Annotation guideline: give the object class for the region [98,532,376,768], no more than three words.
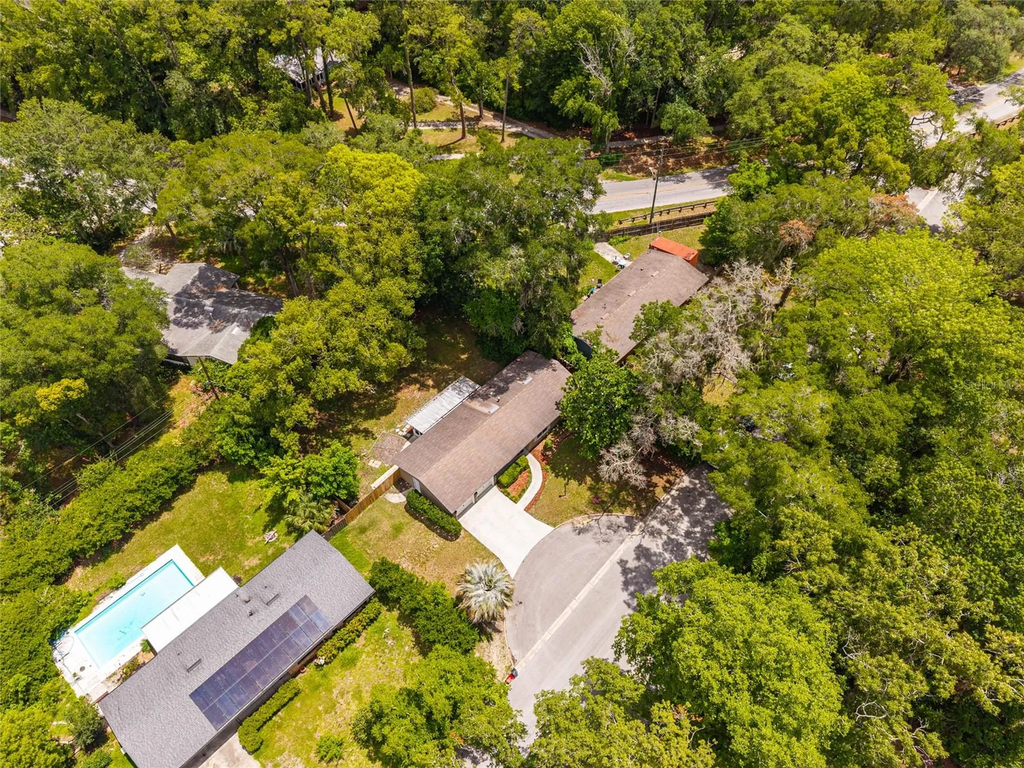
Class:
house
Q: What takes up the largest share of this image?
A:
trees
